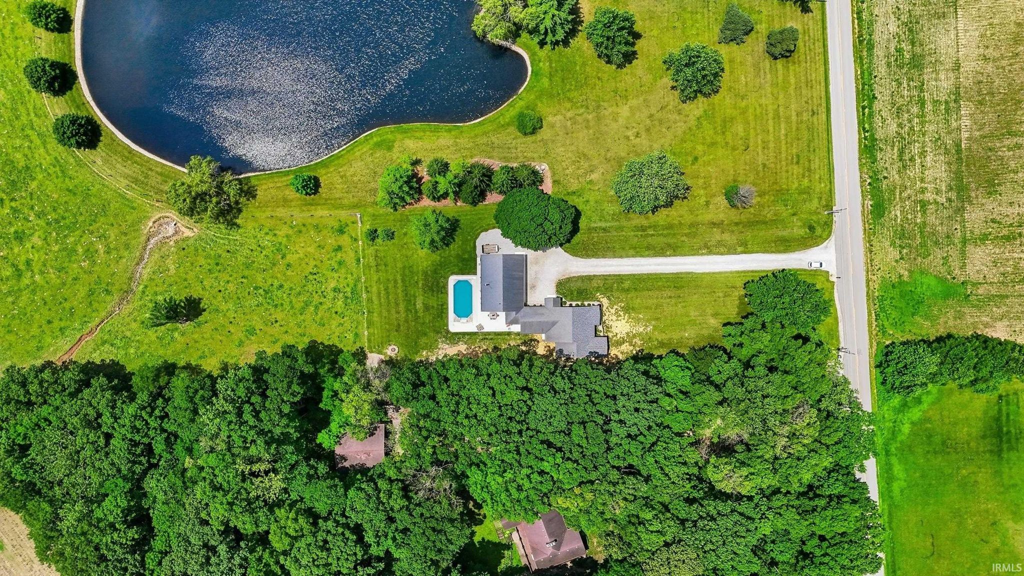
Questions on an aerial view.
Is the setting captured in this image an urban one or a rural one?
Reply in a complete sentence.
The land in this view is best described as rural.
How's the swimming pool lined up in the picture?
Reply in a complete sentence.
The swimming pool is laid out from top to bottom.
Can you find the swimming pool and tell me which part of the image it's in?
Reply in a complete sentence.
The swimming pool appears toward the center of the photo.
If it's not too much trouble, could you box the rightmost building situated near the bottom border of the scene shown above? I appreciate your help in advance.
[517,509,586,574]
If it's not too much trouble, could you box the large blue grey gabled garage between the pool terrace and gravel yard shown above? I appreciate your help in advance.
[481,254,525,312]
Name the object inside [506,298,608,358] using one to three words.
house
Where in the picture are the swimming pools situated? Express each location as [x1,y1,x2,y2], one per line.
[453,279,473,322]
